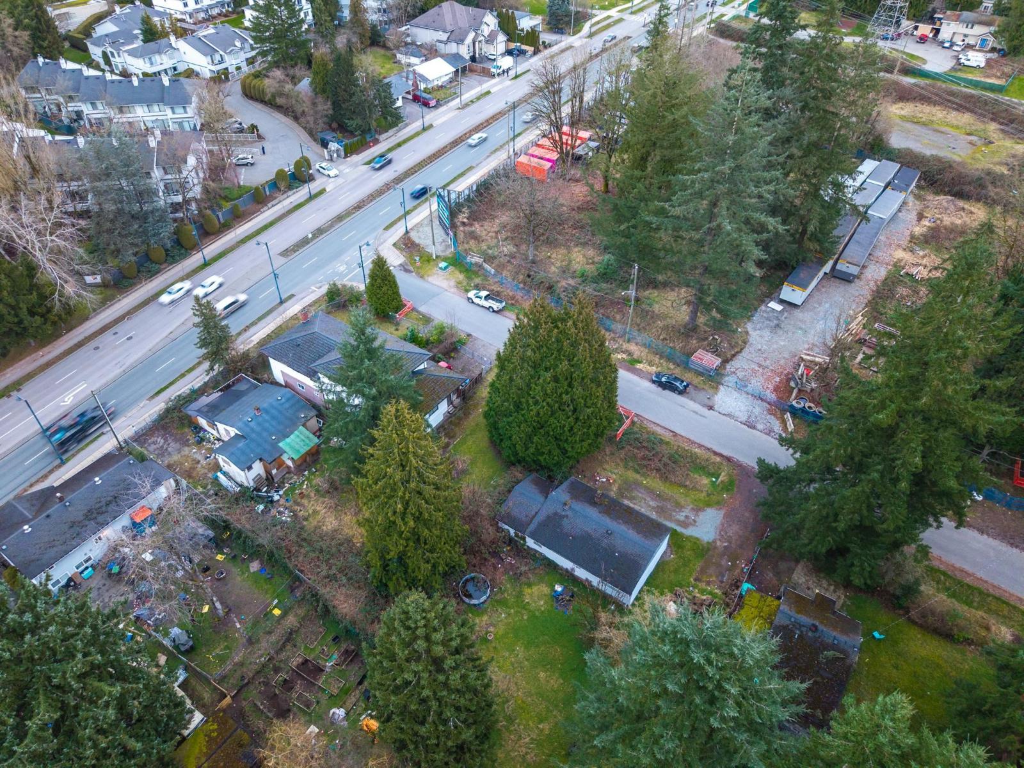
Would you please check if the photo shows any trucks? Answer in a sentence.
Yes, the picture does show a truck.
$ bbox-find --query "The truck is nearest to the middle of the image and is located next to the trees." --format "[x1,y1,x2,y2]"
[465,286,506,312]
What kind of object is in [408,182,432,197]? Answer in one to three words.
car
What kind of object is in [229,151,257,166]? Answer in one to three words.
car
